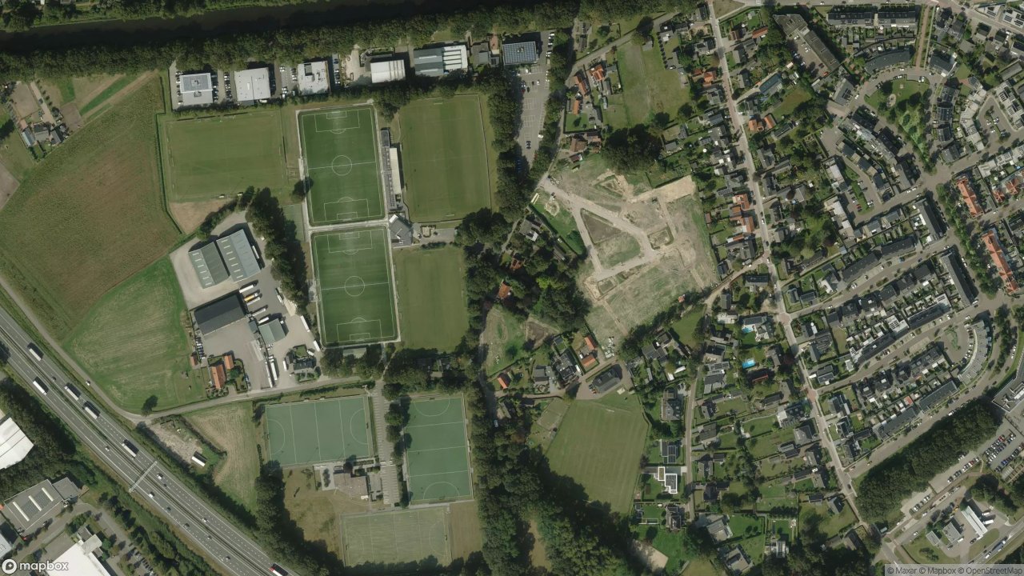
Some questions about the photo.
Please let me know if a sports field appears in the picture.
Yes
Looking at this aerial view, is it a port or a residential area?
residential area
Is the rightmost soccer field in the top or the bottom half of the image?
bottom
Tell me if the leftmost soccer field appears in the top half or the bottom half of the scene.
top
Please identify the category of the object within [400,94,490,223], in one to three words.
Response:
soccer field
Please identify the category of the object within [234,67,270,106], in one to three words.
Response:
building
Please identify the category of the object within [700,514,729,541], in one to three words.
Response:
house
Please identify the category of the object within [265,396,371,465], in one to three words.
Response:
sports field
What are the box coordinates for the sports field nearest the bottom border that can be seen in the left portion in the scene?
[342,506,453,569]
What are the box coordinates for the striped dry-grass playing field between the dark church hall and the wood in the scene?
[549,398,649,513]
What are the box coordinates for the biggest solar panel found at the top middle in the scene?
[503,42,536,63]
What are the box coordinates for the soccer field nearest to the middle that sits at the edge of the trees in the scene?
[394,245,469,350]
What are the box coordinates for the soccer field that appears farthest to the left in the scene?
[166,109,285,200]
